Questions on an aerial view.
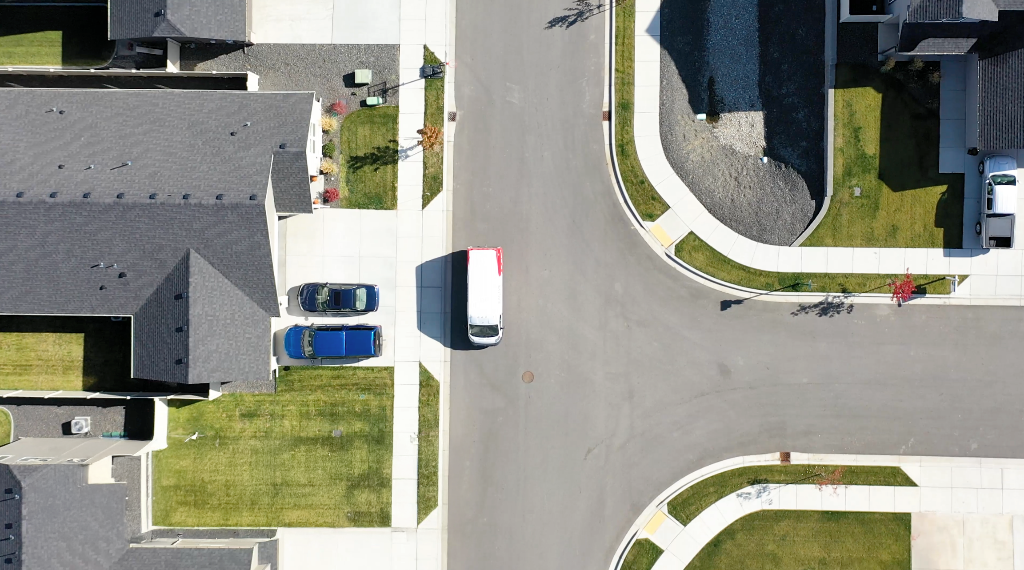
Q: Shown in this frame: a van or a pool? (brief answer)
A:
van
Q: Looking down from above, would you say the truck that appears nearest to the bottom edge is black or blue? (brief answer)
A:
blue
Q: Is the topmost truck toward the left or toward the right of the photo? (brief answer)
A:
right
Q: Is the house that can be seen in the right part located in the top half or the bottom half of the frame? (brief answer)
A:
top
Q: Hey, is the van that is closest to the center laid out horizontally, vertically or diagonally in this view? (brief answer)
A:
vertically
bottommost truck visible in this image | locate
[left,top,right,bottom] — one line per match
[285,321,388,362]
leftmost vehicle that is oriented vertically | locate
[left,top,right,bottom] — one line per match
[465,242,507,347]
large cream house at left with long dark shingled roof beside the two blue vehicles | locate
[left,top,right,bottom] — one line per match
[0,85,329,385]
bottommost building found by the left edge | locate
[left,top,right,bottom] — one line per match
[0,446,279,570]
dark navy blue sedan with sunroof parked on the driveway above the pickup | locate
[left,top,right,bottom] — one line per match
[296,281,380,316]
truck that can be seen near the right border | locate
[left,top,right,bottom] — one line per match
[974,152,1024,251]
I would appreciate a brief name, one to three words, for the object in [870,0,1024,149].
house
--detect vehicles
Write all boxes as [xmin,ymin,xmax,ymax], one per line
[285,321,388,362]
[974,152,1024,251]
[465,242,507,347]
[296,281,380,316]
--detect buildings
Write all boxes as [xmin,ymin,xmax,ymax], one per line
[870,0,1024,149]
[0,0,257,48]
[0,446,279,570]
[0,85,329,385]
